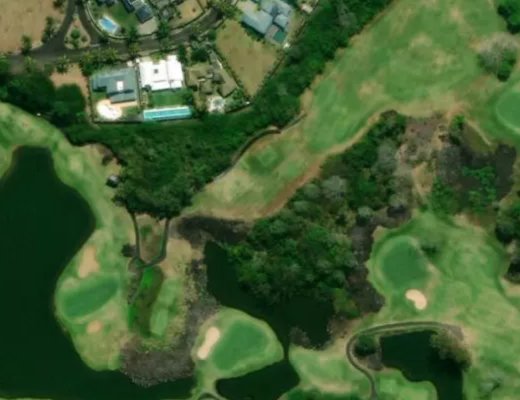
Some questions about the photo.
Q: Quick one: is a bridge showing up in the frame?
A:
No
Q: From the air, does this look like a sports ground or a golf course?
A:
golf course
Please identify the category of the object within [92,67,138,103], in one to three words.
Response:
house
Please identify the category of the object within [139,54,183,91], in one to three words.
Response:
house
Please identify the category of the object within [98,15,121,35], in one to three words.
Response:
swimming pool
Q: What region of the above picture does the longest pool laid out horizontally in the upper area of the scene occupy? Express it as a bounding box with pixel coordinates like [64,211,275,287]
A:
[144,106,189,121]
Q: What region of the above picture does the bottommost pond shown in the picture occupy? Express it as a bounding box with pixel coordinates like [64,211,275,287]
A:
[379,330,463,400]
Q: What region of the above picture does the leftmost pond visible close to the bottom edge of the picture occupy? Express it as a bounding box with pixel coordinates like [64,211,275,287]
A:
[205,242,333,400]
